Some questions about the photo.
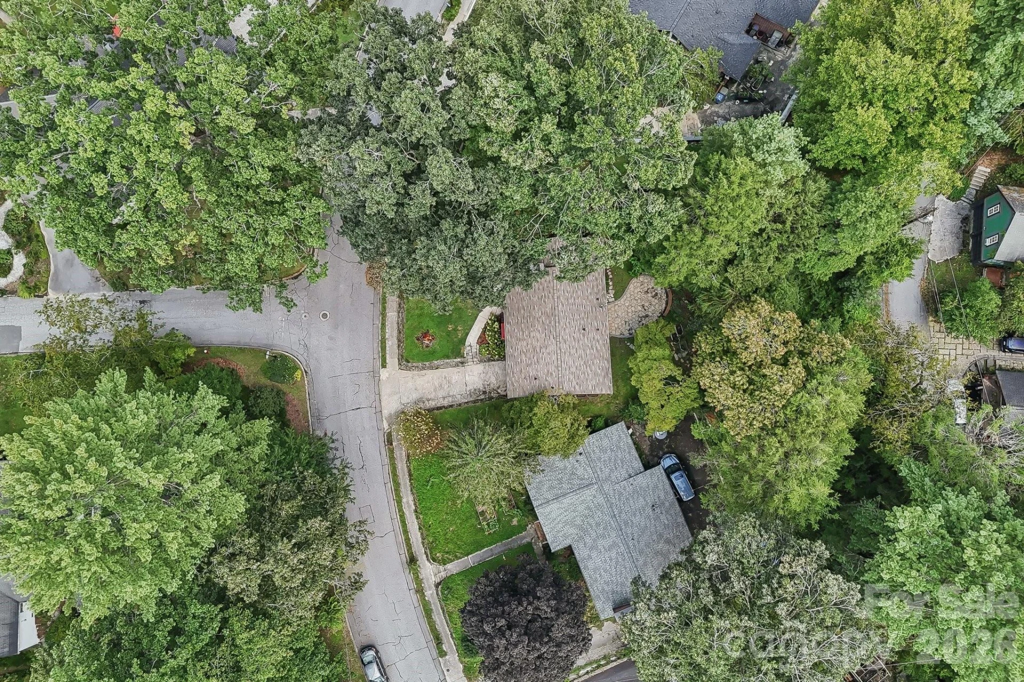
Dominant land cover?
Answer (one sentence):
The largest share of the image is taken up by trees.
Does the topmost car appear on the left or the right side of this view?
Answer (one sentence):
It is on the right.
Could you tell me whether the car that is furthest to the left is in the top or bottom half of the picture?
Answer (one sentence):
The car that is furthest to the left sits in the bottom half of the picture.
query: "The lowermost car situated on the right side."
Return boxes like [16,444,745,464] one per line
[658,450,696,505]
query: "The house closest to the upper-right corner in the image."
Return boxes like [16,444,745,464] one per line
[971,188,1024,267]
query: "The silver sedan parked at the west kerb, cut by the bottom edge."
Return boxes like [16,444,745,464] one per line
[364,648,397,682]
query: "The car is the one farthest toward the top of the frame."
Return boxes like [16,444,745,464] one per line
[1004,335,1024,355]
